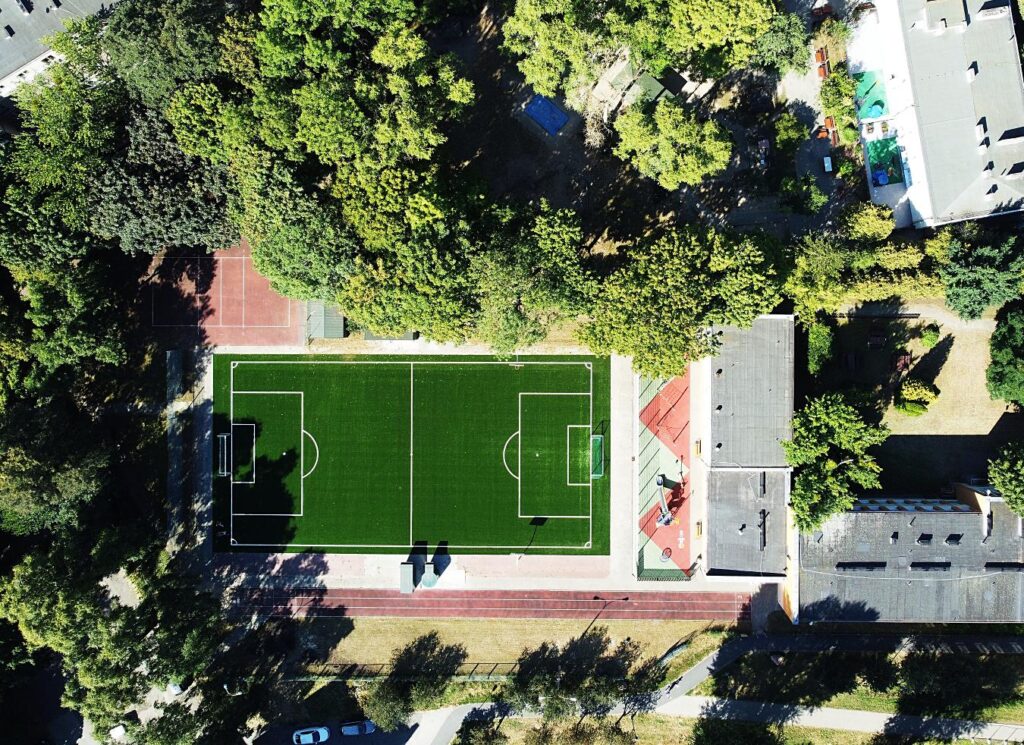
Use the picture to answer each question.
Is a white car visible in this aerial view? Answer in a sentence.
No, there is no white car in the image.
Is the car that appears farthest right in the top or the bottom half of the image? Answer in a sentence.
The bottom half of the photo is where the car that appears farthest right is.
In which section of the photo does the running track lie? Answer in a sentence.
Look in the bottom portion of the view to spot the running track.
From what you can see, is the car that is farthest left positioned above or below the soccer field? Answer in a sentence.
Within the scene, the car that is farthest left can be found below the soccer field.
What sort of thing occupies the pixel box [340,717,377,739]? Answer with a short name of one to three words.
car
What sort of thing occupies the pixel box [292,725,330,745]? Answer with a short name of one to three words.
car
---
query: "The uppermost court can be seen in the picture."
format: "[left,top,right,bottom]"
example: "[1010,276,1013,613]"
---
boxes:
[148,232,310,346]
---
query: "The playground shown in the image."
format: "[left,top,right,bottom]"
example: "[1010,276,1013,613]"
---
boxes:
[640,350,690,577]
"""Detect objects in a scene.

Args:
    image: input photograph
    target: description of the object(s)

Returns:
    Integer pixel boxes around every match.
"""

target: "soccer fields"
[212,354,610,556]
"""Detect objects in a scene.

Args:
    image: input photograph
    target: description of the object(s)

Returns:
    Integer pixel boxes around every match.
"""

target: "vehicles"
[292,725,330,745]
[340,717,377,739]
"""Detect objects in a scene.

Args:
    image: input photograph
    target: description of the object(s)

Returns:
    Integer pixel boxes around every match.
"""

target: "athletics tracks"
[226,588,753,621]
